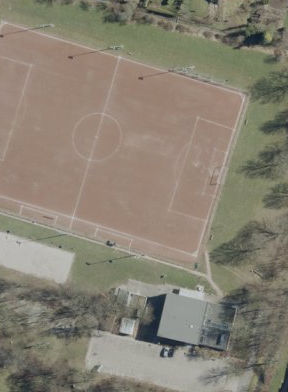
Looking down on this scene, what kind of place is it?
sports ground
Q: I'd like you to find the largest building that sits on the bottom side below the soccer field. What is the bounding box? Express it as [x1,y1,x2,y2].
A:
[157,294,209,346]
